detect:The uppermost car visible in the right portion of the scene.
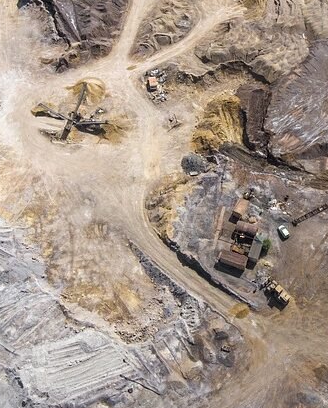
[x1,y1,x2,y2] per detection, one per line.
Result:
[277,226,291,239]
